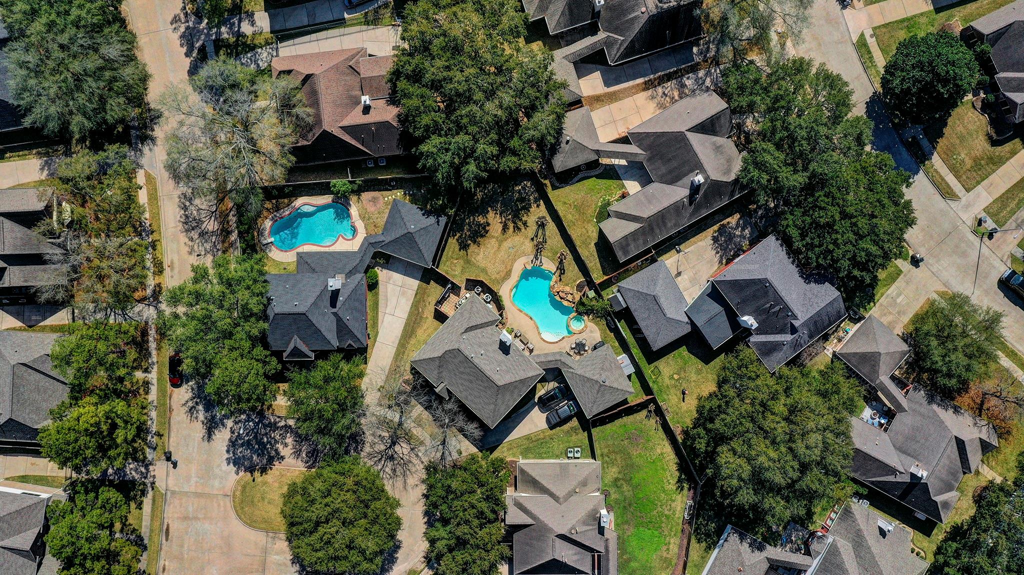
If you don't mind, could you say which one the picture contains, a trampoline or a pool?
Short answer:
pool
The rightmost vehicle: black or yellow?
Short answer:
black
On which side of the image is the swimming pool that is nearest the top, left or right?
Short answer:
left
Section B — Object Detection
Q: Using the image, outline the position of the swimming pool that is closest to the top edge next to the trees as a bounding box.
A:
[268,200,360,253]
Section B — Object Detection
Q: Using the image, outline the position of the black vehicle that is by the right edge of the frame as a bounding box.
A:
[1004,270,1024,292]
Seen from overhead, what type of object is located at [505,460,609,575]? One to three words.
house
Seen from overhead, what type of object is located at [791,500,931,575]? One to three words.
house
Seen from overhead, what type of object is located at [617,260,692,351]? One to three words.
building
